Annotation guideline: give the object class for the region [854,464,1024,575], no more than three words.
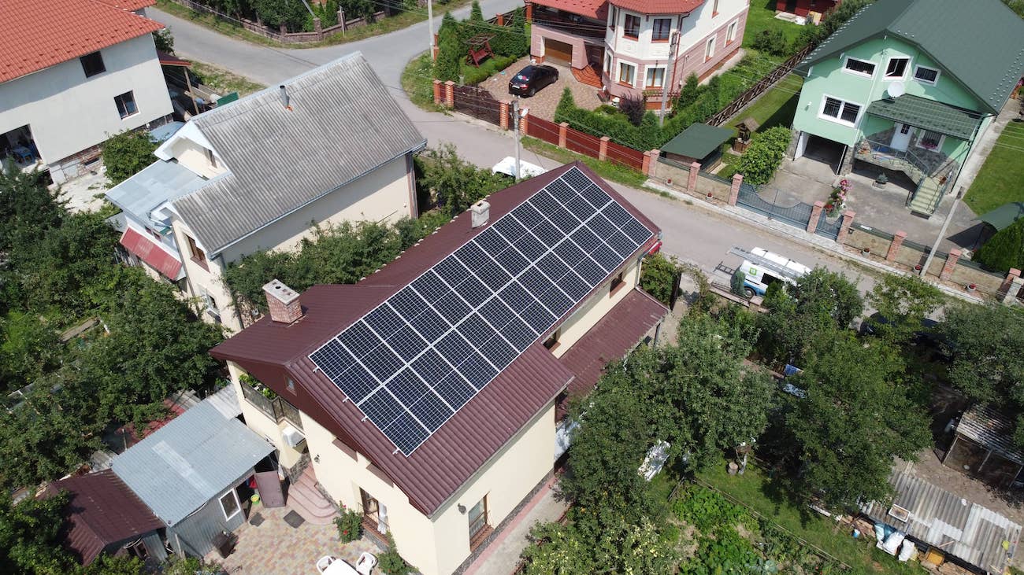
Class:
shed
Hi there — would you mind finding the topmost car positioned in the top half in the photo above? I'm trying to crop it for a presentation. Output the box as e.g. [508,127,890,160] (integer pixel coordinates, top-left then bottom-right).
[505,58,561,94]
